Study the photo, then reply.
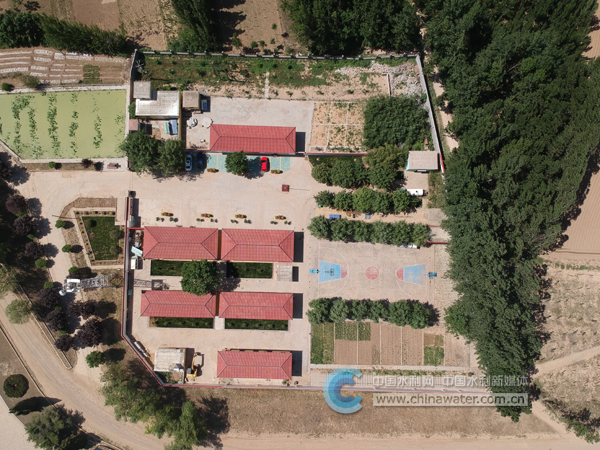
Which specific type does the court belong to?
basketball court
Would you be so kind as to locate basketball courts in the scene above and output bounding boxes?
[310,243,437,300]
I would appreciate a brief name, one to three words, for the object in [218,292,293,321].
house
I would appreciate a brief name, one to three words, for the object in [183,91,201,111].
shed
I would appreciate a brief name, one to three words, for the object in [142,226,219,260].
house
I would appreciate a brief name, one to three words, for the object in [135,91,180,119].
building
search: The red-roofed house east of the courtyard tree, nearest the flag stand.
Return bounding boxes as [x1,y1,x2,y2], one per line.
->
[221,229,295,262]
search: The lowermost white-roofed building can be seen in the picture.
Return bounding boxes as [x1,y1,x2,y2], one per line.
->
[154,346,188,371]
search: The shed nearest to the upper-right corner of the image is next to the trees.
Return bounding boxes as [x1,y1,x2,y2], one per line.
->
[404,151,438,172]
